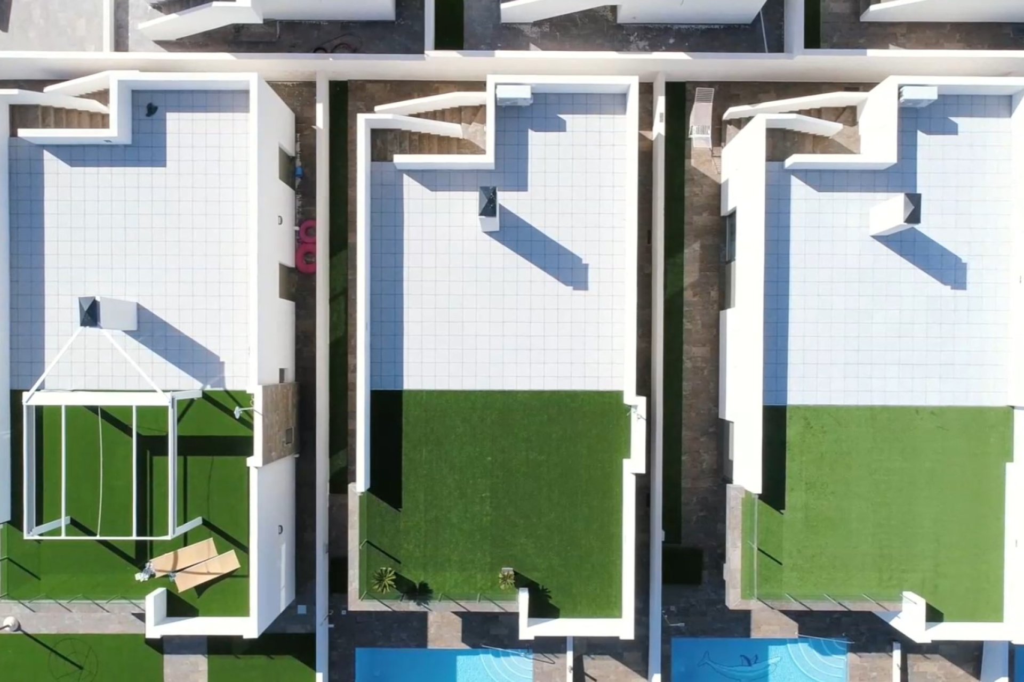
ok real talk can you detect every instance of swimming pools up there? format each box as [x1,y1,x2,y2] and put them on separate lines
[355,648,532,682]
[1013,642,1024,682]
[670,637,848,682]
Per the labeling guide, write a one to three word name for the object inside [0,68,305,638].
house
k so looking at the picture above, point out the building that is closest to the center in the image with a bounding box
[348,75,646,639]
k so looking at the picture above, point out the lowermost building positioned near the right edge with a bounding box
[717,75,1024,643]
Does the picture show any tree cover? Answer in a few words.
No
